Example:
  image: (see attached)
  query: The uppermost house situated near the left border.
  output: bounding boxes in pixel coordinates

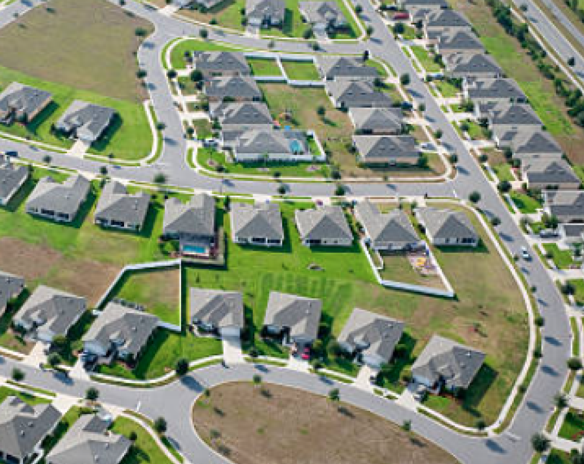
[0,83,51,121]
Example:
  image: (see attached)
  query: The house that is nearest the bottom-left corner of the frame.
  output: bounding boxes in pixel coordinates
[0,398,65,464]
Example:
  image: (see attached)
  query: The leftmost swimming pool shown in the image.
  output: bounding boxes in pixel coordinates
[179,233,213,257]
